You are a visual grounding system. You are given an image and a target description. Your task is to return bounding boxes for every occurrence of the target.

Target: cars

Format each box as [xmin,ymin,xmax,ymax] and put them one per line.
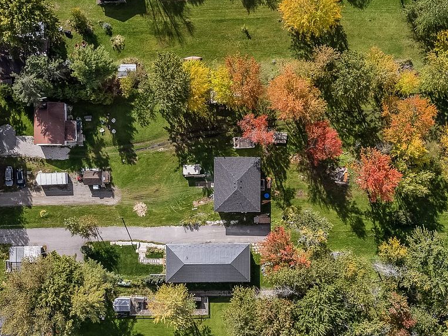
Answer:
[4,166,14,187]
[15,167,25,187]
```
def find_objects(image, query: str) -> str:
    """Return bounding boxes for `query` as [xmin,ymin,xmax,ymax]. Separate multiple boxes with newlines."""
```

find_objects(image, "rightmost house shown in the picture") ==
[214,157,271,224]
